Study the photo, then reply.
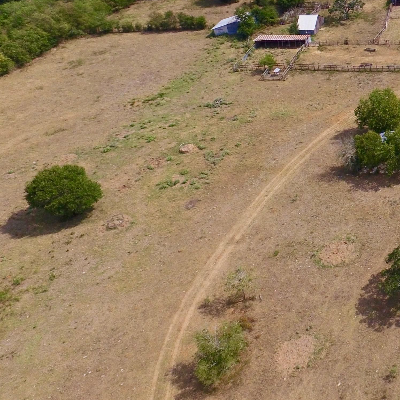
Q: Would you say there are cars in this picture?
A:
No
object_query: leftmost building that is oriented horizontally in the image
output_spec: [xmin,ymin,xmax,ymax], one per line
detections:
[211,10,264,36]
